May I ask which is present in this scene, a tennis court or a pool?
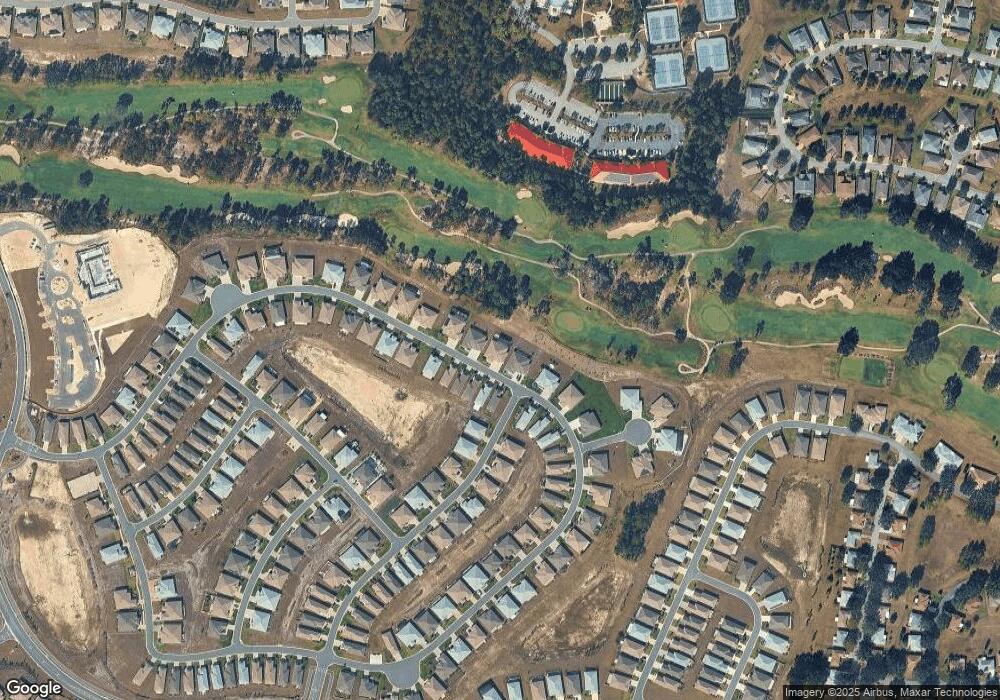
tennis court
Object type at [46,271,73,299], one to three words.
roundabout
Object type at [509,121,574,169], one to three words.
building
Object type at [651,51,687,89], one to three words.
tennis court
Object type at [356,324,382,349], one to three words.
house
